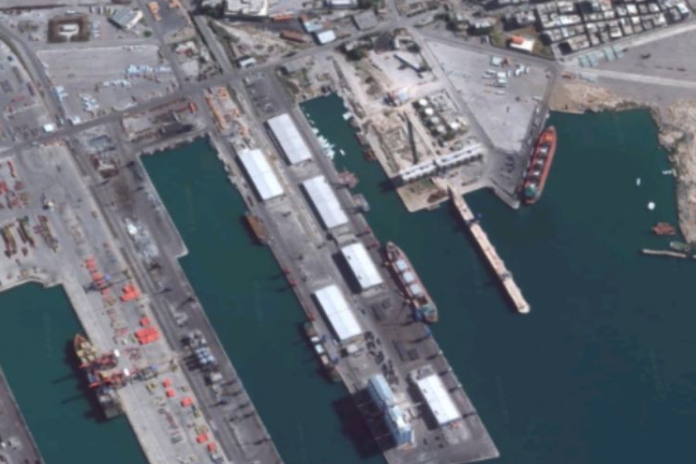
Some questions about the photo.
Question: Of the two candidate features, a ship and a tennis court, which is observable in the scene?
ship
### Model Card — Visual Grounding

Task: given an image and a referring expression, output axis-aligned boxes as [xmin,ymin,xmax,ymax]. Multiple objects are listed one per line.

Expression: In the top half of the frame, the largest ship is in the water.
[523,125,554,205]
